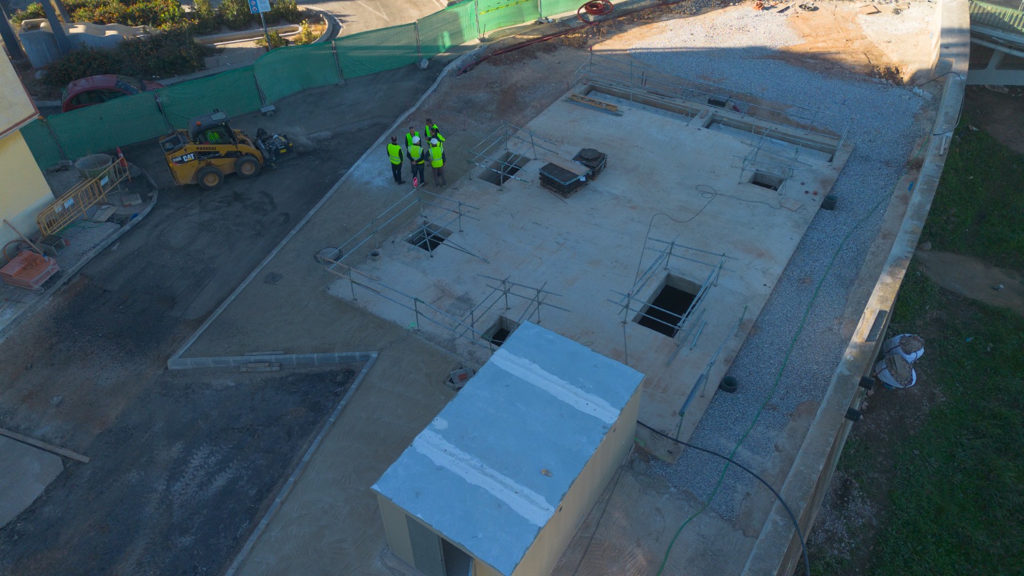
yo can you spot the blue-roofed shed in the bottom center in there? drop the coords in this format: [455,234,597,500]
[373,321,646,576]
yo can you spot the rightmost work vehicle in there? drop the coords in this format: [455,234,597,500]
[156,110,301,191]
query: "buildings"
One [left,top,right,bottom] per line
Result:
[0,46,54,263]
[373,321,646,576]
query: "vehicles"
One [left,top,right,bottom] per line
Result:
[156,110,301,191]
[57,73,171,114]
